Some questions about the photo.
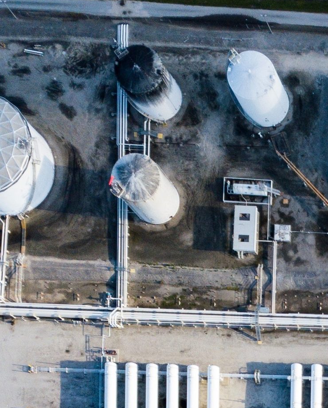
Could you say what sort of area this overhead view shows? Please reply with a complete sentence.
What you see here is an industrial area.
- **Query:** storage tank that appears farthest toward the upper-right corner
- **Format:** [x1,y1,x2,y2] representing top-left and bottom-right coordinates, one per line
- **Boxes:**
[226,48,293,131]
